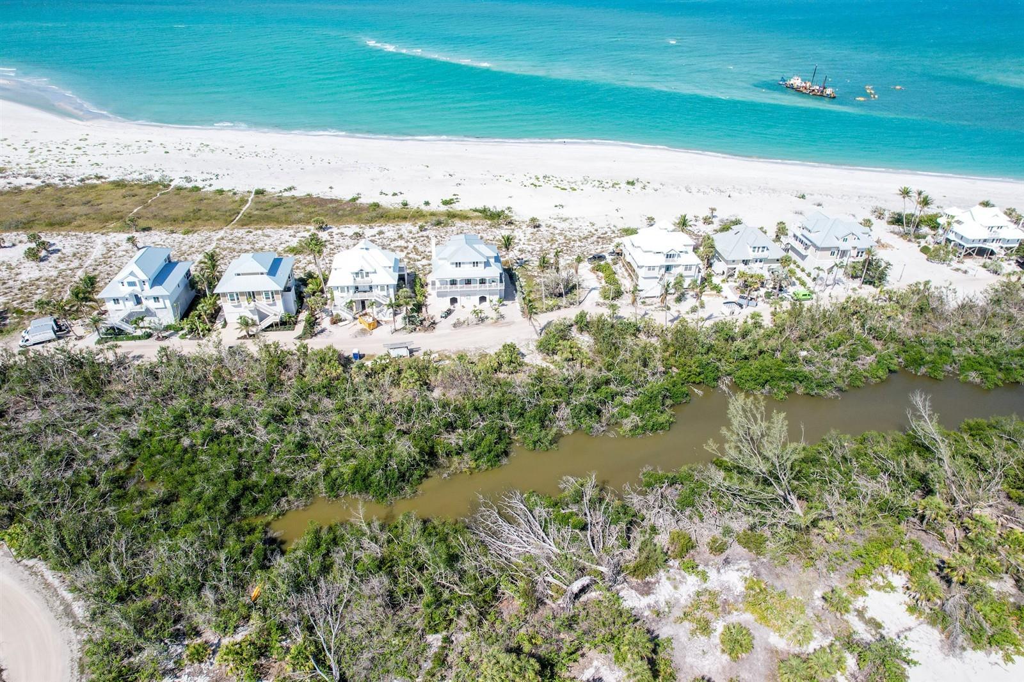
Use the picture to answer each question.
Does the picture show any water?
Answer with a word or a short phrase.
Yes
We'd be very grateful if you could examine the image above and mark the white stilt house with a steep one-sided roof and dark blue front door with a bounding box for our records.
[97,240,196,340]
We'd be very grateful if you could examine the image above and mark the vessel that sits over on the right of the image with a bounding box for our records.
[775,61,841,99]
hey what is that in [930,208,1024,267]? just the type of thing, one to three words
house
